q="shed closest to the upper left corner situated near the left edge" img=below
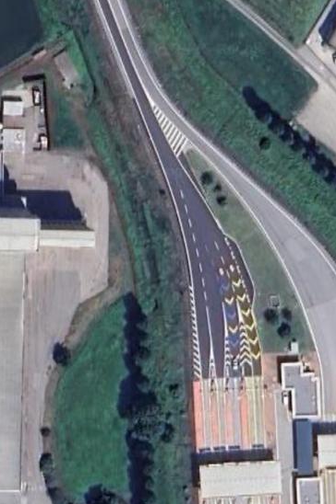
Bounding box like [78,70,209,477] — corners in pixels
[3,100,24,115]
